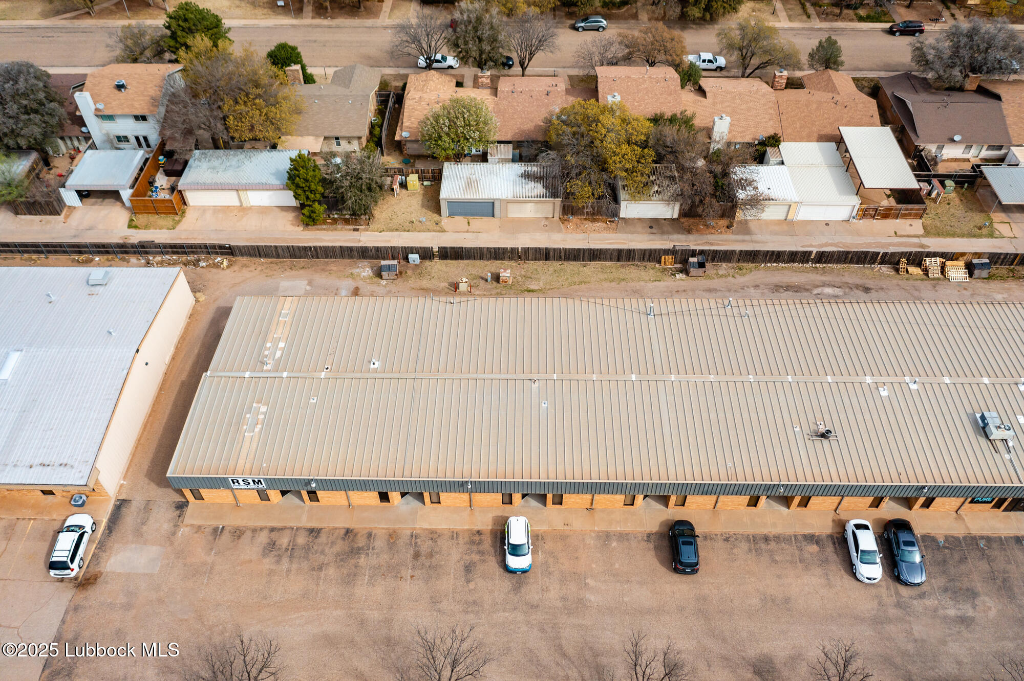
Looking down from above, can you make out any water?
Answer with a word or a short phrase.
No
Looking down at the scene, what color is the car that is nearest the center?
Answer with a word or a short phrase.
white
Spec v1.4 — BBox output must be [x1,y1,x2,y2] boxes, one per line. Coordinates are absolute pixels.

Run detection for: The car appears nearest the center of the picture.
[504,515,533,573]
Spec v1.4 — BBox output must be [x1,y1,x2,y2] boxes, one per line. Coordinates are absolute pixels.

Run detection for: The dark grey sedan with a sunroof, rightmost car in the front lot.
[886,522,932,587]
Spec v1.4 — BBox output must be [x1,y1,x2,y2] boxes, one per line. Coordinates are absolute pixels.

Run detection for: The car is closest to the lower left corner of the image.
[46,518,96,579]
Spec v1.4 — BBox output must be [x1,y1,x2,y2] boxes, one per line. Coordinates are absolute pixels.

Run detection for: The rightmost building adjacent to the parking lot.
[165,293,1024,513]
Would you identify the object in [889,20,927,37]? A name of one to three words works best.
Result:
car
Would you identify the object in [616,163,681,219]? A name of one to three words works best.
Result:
building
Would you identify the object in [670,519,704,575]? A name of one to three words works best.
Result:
car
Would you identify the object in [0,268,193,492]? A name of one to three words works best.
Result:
building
